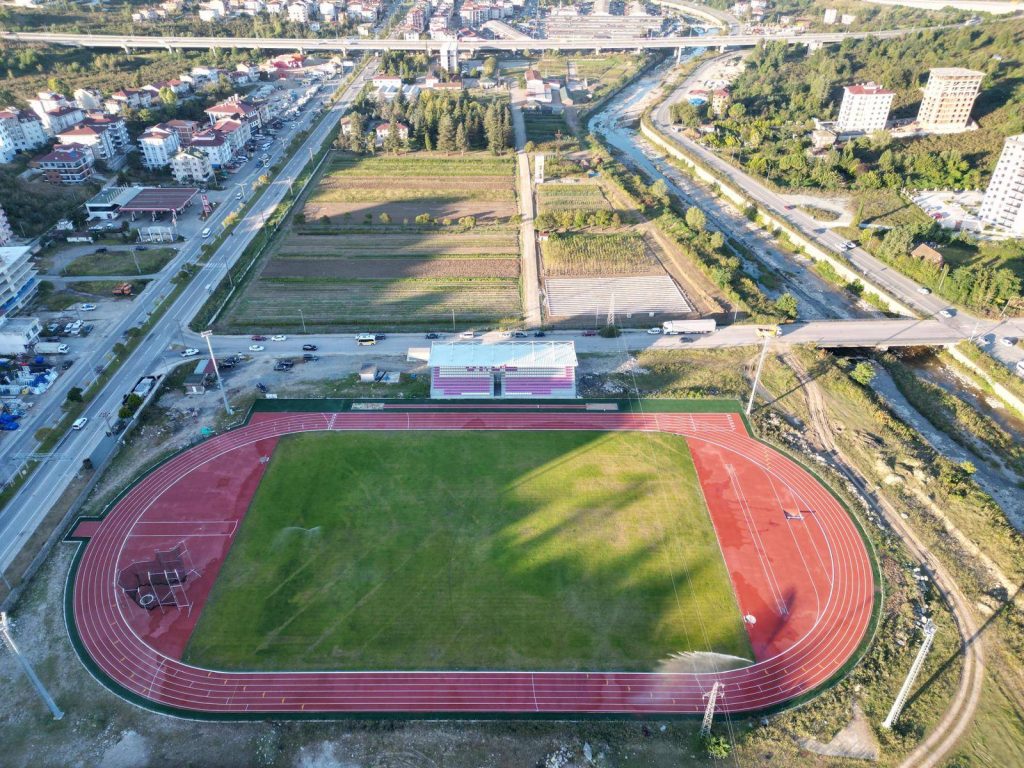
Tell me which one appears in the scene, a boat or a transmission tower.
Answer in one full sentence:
There is a transmission tower in the scene.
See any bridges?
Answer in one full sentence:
Yes, the frame does contain a bridge.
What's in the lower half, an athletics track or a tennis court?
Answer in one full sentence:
You can see an athletics track in the lower half.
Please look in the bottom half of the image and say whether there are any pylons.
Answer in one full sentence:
Yes, a pylon can be seen in the bottom half of the image.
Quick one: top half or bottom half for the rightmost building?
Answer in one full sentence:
You can find the rightmost building in the top half.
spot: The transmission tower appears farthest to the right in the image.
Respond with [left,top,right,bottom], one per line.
[699,685,726,730]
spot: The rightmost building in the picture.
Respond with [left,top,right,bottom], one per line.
[975,142,1024,239]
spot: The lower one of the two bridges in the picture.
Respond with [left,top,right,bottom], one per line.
[785,315,977,353]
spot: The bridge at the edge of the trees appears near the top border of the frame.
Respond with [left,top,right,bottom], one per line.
[0,10,1009,62]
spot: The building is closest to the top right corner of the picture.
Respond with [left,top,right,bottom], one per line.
[910,66,987,127]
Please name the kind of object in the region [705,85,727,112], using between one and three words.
house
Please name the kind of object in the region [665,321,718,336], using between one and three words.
vehicle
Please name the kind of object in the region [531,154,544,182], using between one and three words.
shed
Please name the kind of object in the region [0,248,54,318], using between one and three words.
building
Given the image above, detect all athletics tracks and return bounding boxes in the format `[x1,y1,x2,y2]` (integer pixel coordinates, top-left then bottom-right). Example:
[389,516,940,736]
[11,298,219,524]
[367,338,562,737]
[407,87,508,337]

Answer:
[73,412,874,712]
